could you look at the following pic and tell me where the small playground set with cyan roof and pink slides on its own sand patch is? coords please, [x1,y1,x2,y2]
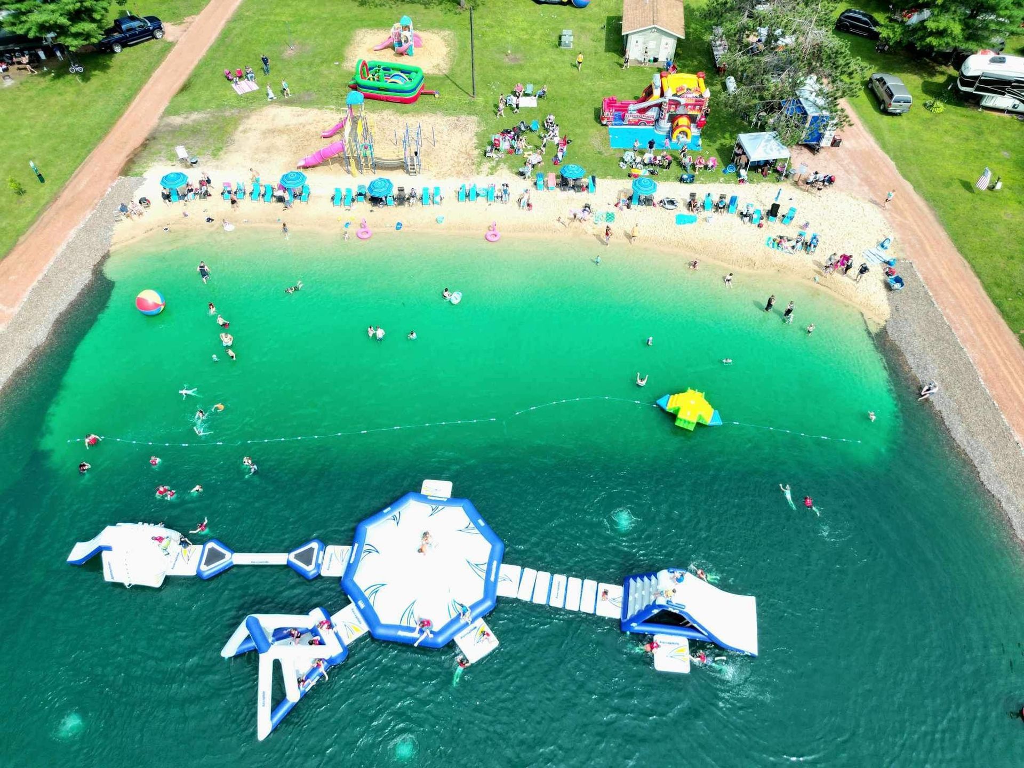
[374,12,425,57]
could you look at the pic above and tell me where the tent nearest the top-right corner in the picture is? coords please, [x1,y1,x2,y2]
[733,133,790,176]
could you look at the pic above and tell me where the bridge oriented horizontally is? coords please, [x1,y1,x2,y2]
[517,568,598,614]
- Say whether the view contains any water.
Yes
